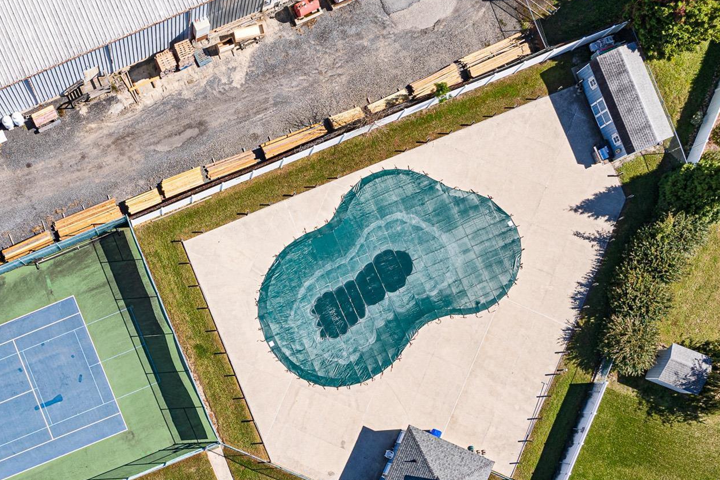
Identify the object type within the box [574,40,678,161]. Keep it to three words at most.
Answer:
shed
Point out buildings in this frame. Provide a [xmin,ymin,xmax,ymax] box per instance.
[647,343,712,395]
[574,40,678,161]
[0,0,264,122]
[381,425,496,480]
